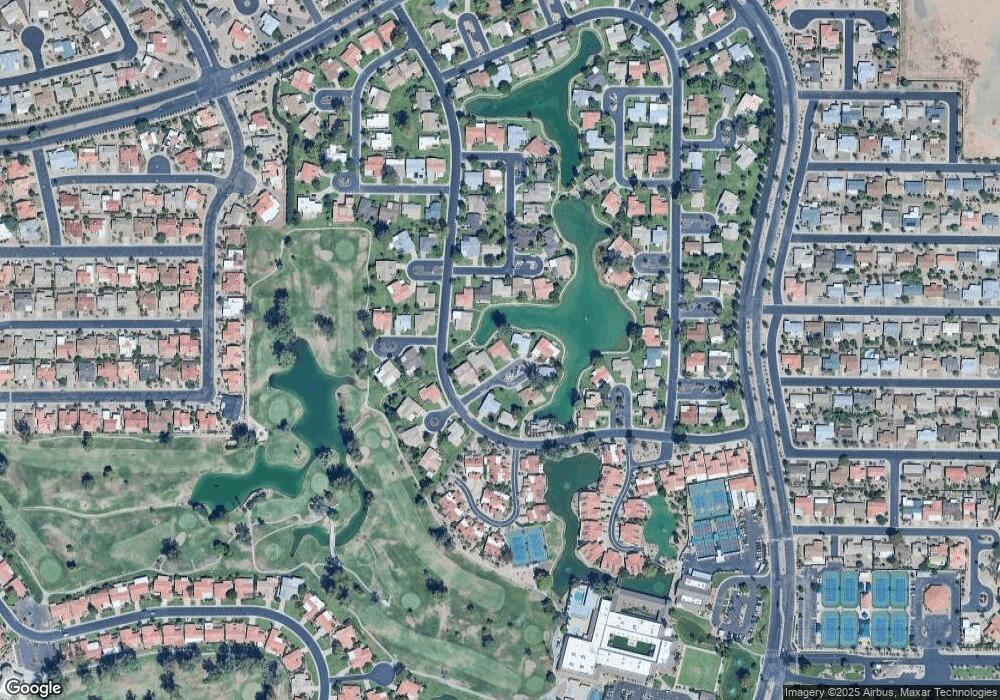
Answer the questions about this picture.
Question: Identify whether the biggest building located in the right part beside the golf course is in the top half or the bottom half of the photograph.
bottom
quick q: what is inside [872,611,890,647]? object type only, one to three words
tennis court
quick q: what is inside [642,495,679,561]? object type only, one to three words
pond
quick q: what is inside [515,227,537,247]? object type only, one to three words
house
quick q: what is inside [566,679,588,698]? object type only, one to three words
building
